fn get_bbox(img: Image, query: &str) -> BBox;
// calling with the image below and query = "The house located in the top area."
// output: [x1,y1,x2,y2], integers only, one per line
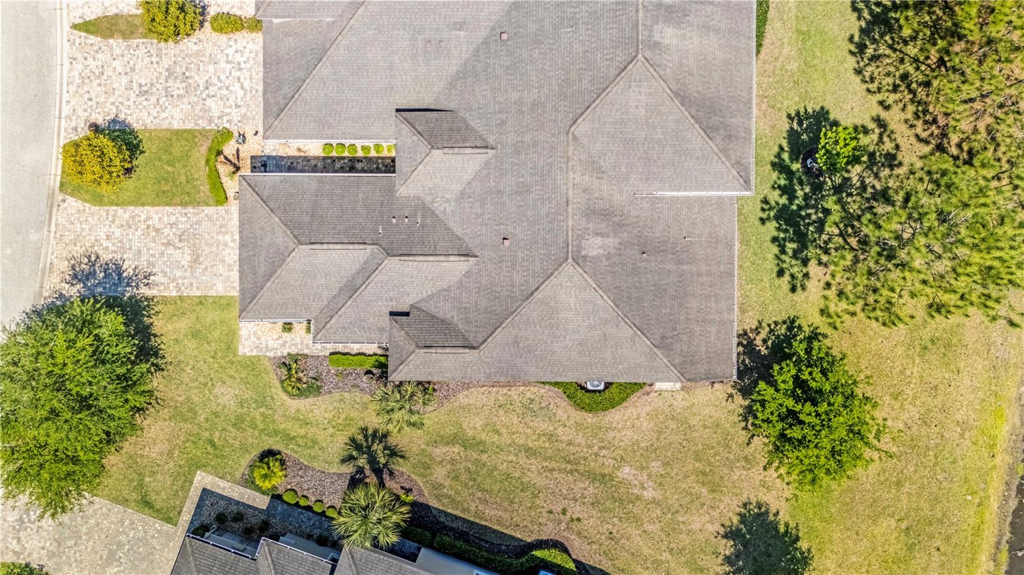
[239,0,758,382]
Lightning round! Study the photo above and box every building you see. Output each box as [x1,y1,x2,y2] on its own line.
[172,521,496,575]
[239,0,758,382]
